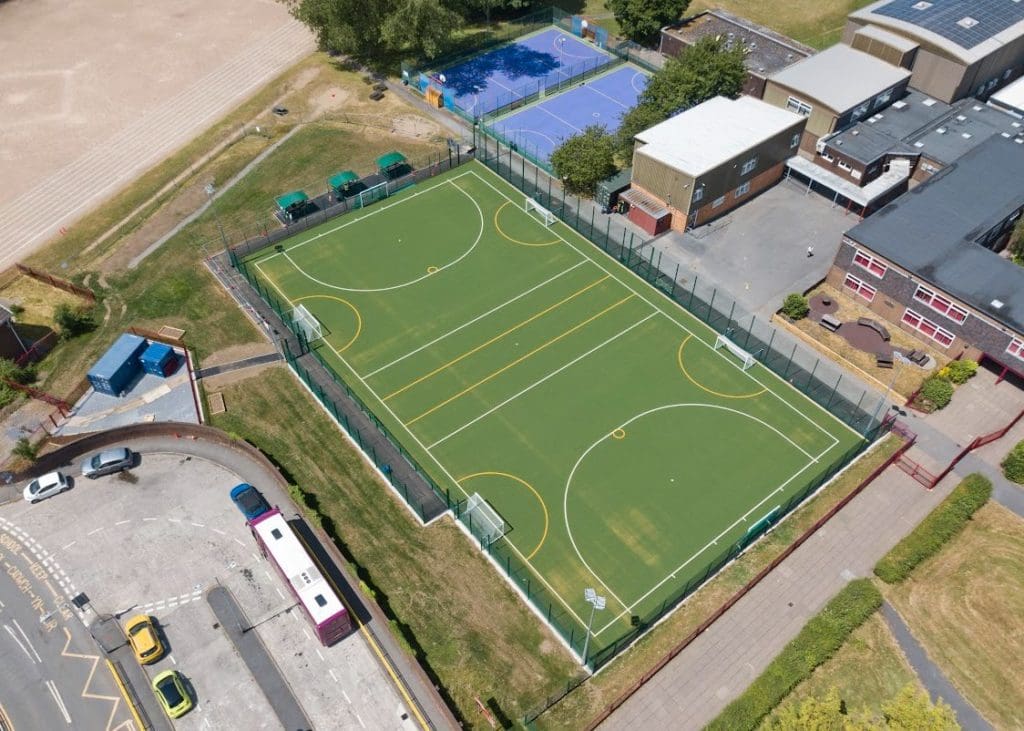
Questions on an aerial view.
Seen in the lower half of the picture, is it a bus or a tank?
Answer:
bus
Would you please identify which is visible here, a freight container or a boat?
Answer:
freight container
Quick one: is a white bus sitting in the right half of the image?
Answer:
No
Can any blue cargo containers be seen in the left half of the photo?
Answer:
Yes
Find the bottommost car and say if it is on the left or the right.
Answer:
left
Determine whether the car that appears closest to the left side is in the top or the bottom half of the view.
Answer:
bottom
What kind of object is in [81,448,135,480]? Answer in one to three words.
car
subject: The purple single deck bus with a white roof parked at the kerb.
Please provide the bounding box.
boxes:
[245,507,351,645]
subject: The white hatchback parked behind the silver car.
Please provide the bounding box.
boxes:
[20,467,71,503]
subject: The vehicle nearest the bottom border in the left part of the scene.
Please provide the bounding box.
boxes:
[152,666,192,721]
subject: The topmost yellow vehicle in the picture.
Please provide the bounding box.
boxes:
[123,610,162,662]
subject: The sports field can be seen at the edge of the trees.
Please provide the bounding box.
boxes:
[233,158,871,670]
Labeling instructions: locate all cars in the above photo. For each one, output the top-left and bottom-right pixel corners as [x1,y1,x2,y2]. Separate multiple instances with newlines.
[81,448,135,480]
[123,610,162,662]
[232,483,269,524]
[20,467,71,503]
[152,666,192,721]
